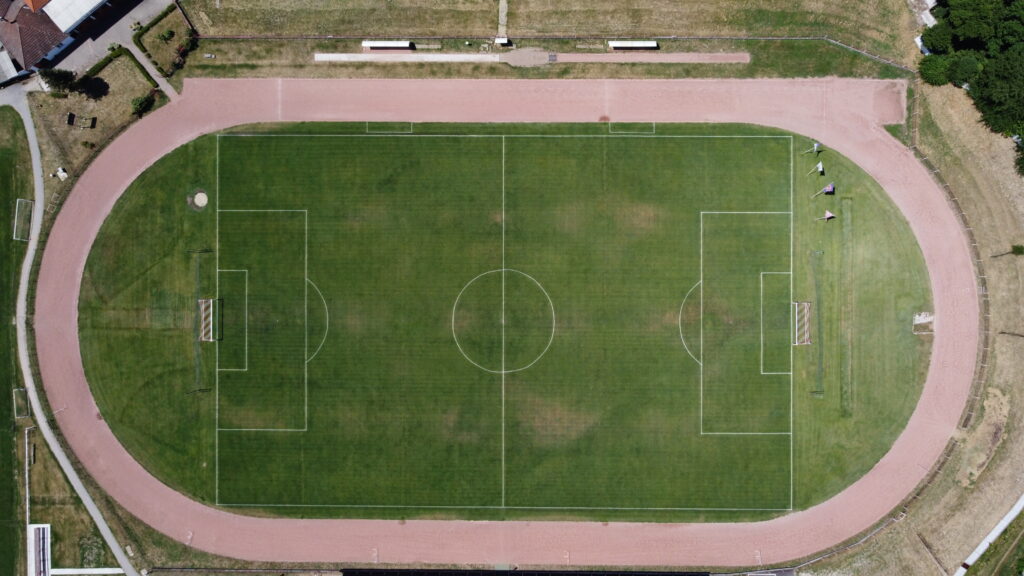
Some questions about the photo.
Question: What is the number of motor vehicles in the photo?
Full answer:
My tally gives 1 motor vehicle in this photo.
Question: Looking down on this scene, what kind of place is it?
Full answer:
The area seen from above is a sports ground.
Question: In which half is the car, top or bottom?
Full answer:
The car is in the top half of the image.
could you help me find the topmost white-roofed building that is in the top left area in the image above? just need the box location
[41,0,134,41]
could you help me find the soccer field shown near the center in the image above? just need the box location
[216,123,792,511]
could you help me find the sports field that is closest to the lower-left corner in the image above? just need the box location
[0,106,23,576]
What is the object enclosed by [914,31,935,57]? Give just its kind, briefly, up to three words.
car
